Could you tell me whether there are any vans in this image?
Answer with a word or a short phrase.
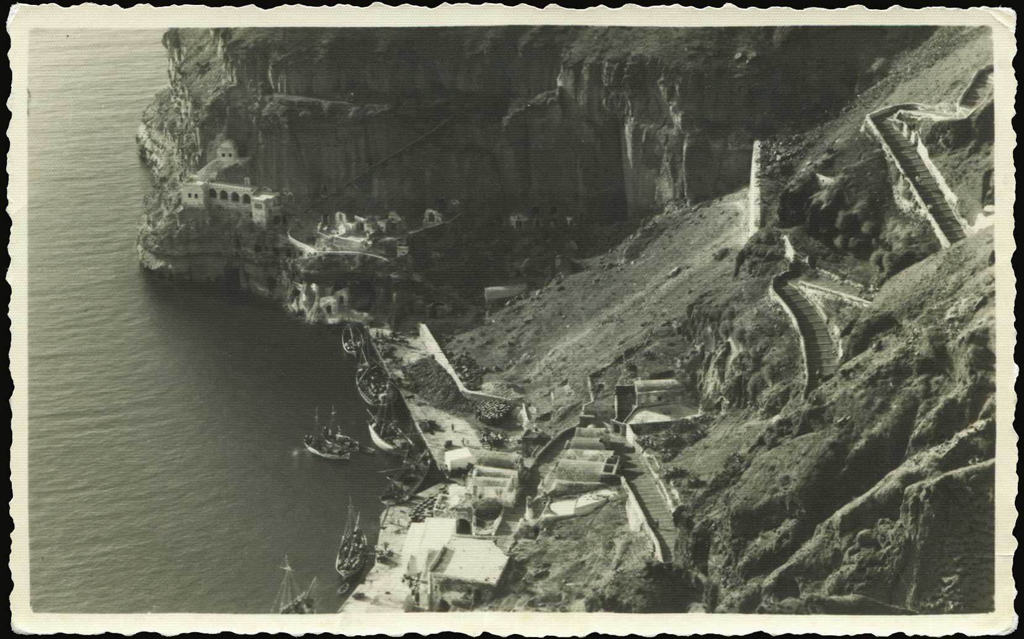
No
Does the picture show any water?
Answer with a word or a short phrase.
Yes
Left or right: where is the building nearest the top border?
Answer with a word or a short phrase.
left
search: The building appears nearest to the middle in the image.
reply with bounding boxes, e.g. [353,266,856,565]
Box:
[486,283,527,312]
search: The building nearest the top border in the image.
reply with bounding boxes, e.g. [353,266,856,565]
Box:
[218,139,242,172]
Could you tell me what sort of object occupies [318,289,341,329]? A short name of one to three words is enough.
house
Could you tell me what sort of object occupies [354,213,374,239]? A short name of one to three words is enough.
house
